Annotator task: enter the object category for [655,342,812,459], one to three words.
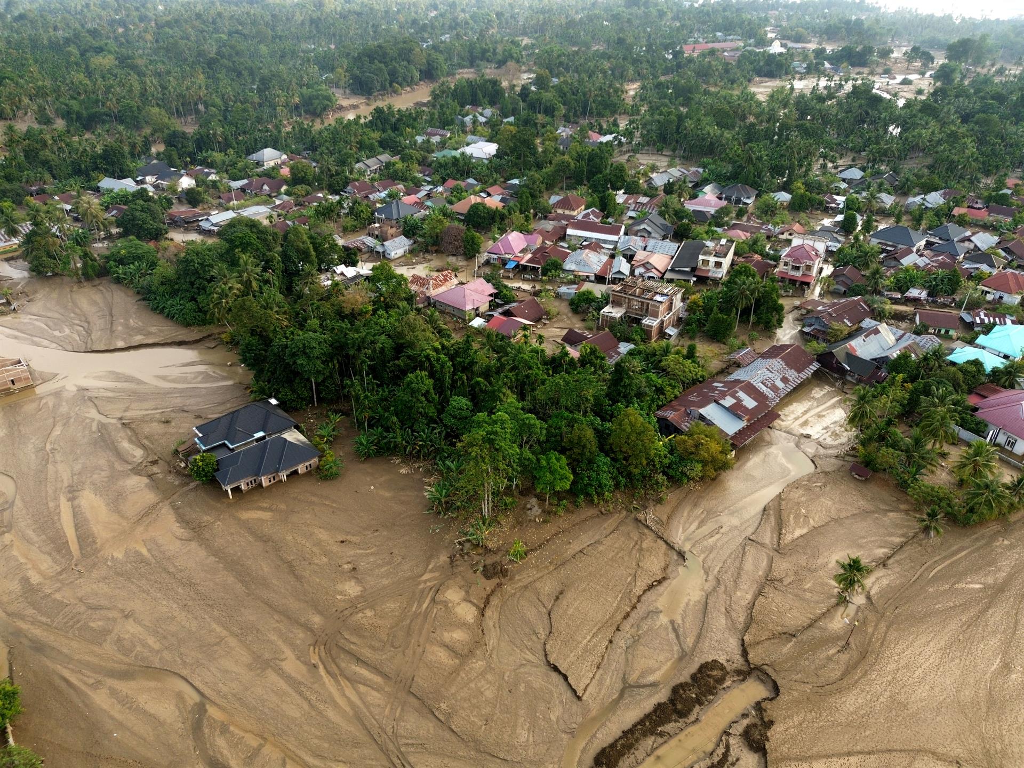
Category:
barn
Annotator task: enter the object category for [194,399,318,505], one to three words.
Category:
house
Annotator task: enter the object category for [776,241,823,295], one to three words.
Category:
house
